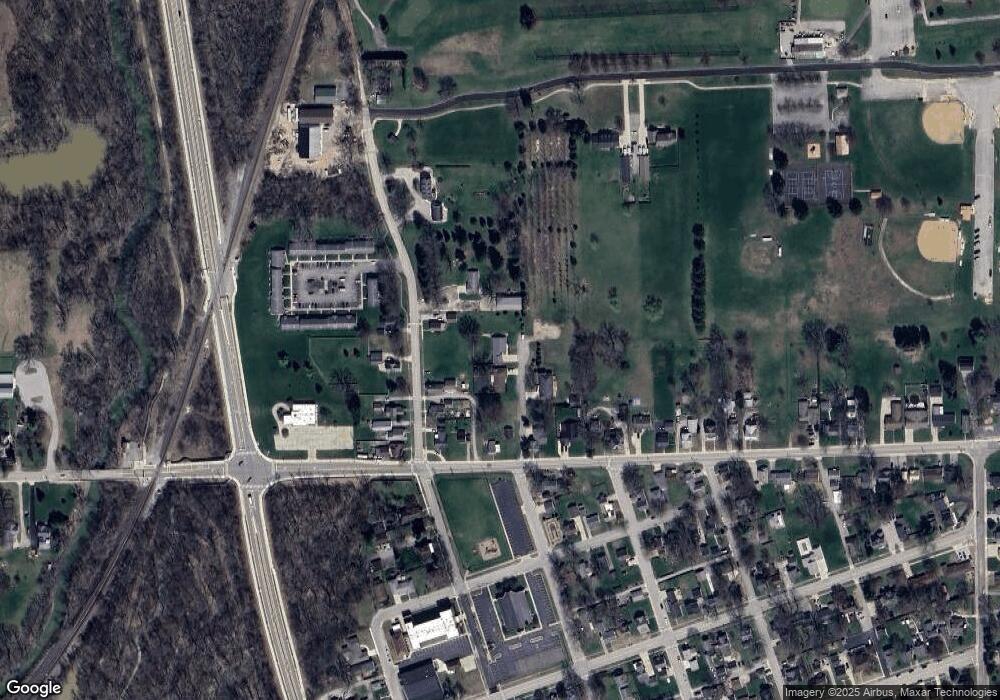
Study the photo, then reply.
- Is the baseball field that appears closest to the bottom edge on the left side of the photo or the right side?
right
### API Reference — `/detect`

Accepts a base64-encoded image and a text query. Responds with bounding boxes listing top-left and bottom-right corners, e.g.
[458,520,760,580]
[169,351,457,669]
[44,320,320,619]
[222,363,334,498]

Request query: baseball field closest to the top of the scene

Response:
[922,101,966,144]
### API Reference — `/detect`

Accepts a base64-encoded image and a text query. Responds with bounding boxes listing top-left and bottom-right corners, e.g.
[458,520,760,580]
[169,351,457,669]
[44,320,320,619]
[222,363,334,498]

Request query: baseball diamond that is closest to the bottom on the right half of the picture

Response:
[918,219,960,263]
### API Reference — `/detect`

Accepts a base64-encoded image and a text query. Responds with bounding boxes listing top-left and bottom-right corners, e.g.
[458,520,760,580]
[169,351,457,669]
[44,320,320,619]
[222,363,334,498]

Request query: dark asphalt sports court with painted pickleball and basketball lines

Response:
[783,164,853,207]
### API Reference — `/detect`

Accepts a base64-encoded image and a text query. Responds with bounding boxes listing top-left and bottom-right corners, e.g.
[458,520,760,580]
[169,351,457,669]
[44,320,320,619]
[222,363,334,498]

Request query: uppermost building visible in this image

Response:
[792,37,823,57]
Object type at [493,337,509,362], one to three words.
house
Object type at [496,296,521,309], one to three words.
barn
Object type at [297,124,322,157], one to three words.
building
